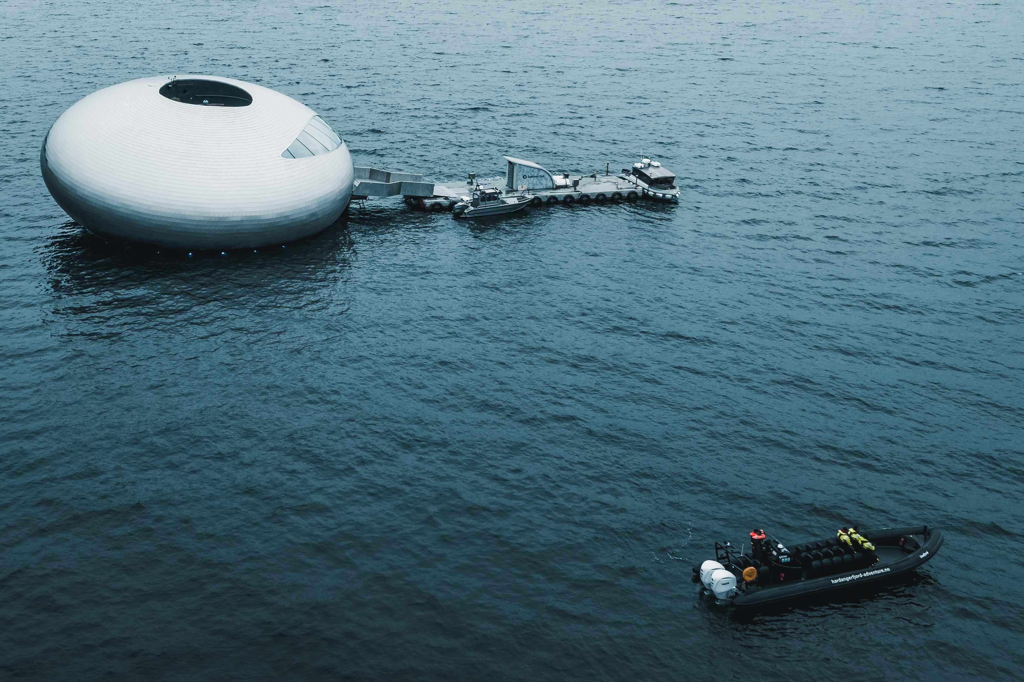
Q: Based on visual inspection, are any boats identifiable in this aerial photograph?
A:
Yes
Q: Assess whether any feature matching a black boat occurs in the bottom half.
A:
Yes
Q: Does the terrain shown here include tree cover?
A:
No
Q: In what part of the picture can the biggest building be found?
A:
top left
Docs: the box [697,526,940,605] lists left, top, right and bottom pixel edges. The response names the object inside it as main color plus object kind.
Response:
black boat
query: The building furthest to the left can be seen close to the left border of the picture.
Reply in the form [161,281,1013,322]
[41,76,354,254]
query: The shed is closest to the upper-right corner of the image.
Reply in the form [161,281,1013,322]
[503,153,556,189]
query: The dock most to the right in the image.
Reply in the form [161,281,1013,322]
[416,174,642,213]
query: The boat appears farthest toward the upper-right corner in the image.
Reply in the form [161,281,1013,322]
[618,155,681,198]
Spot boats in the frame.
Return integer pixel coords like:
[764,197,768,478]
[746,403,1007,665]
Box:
[697,526,940,605]
[452,177,535,218]
[618,155,681,198]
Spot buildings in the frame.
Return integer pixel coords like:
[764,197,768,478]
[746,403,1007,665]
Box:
[503,153,556,189]
[41,76,354,254]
